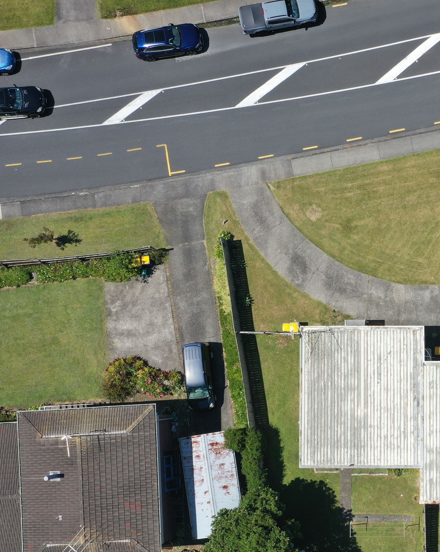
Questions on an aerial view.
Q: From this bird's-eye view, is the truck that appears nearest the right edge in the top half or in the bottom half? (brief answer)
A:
top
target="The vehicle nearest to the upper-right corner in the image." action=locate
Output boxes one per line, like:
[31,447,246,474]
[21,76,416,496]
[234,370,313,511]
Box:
[233,0,320,37]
